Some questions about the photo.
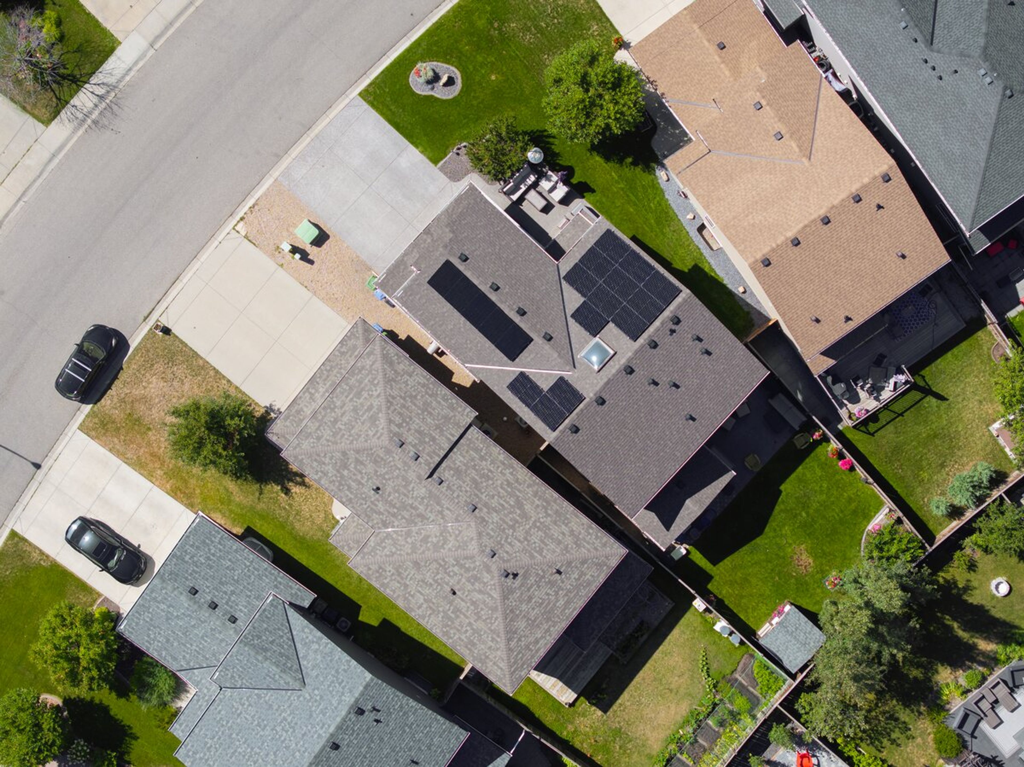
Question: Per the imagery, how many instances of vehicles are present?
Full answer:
There are 2 vehicles in the image.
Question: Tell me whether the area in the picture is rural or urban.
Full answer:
From above, the setting appears urban.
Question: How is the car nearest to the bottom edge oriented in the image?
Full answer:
From this overhead view, the car nearest to the bottom edge appears to run on a diagonal.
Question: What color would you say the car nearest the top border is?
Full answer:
The color of the car nearest the top border is black.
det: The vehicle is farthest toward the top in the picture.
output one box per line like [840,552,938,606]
[50,323,115,401]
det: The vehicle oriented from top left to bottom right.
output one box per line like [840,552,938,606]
[61,516,146,586]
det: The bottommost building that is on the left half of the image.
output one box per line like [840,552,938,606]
[115,510,525,767]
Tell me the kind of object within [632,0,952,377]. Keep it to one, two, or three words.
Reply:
house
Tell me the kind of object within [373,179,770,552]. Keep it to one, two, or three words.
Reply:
house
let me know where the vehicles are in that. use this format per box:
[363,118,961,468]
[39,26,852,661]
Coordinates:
[61,516,146,586]
[50,323,115,401]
